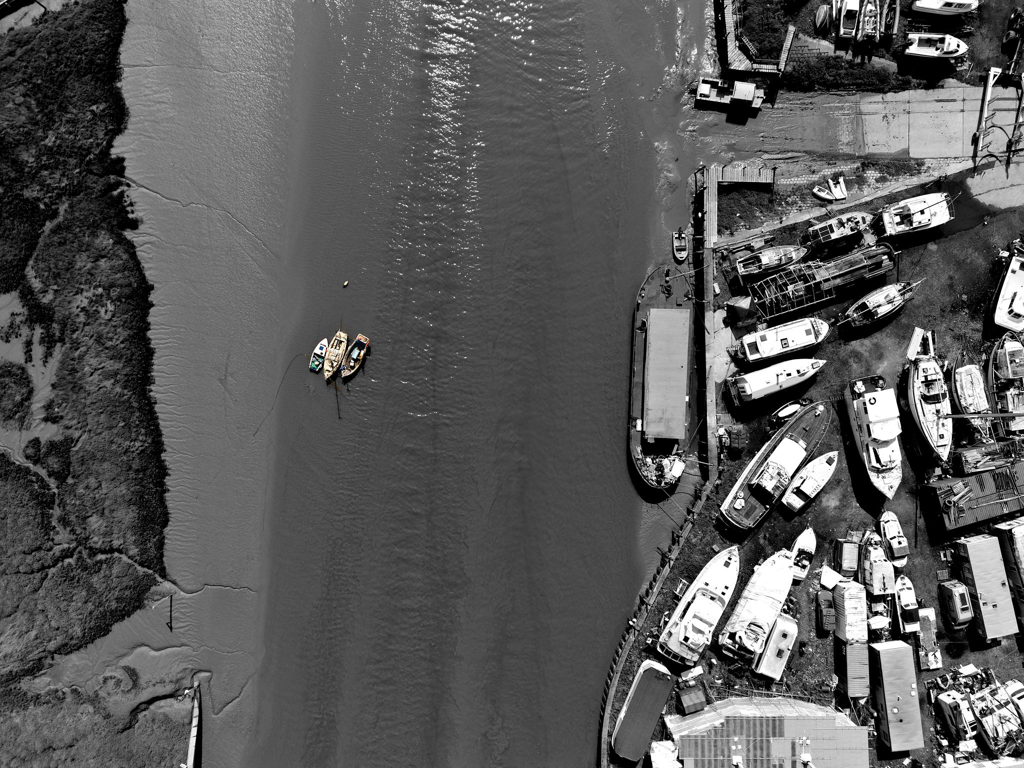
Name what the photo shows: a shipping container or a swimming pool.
shipping container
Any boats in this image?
Yes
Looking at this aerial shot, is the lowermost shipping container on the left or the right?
right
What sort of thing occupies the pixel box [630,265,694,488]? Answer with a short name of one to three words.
ship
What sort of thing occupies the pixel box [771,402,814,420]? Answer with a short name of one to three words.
boat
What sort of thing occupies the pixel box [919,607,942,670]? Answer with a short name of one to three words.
trailer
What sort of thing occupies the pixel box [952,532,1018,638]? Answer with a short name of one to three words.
house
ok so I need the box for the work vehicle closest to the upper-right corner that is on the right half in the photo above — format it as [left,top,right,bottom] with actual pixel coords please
[1002,4,1024,74]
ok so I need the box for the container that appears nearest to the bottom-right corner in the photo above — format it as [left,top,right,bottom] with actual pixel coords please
[836,636,870,698]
